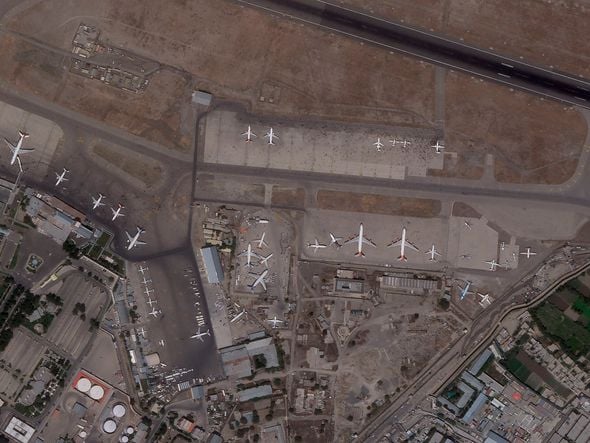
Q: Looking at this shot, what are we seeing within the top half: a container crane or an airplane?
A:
airplane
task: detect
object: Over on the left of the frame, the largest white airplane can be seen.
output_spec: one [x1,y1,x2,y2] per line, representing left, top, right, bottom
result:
[3,132,33,164]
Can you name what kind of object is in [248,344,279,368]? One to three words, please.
building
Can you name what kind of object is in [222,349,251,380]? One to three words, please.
hangar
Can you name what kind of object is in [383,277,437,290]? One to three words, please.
shed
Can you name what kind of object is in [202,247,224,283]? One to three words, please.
hangar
